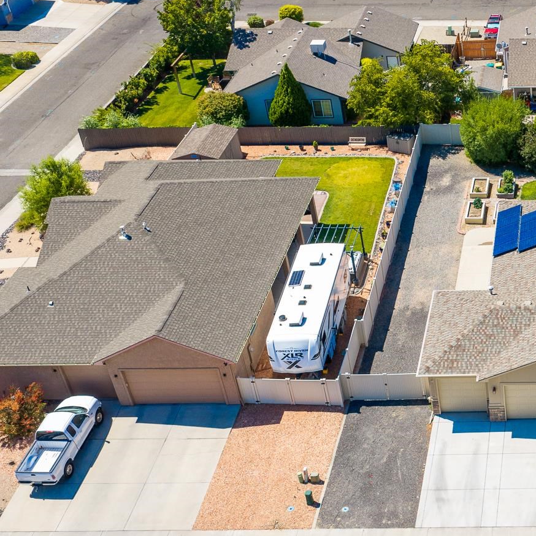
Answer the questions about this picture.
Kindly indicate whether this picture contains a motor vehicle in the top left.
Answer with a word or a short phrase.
No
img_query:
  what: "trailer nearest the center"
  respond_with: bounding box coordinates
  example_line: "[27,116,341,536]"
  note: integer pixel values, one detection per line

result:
[266,245,351,376]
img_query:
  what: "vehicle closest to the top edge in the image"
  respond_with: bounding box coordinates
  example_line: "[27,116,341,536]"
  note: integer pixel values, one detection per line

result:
[482,5,505,36]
